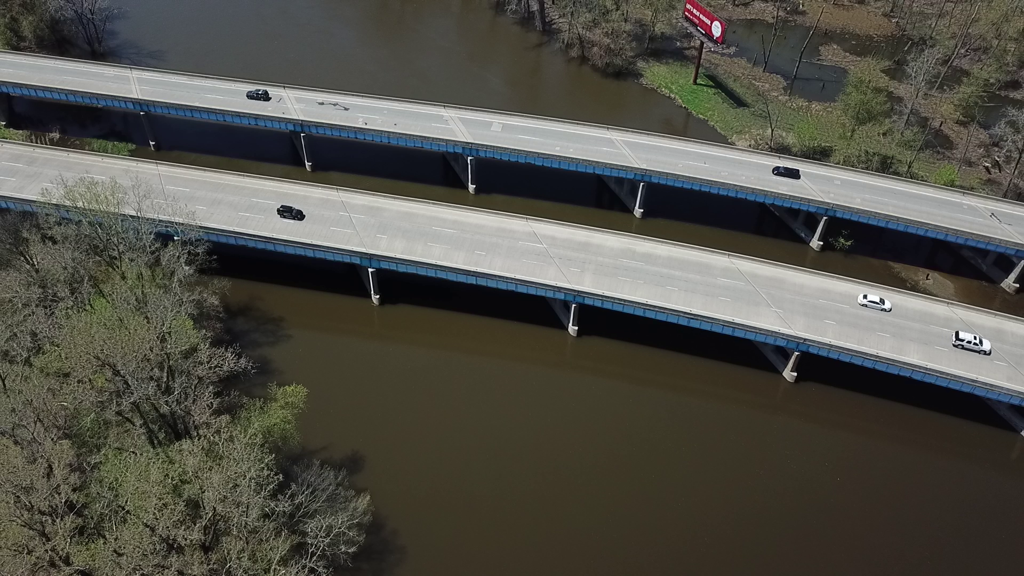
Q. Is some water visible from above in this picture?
Yes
